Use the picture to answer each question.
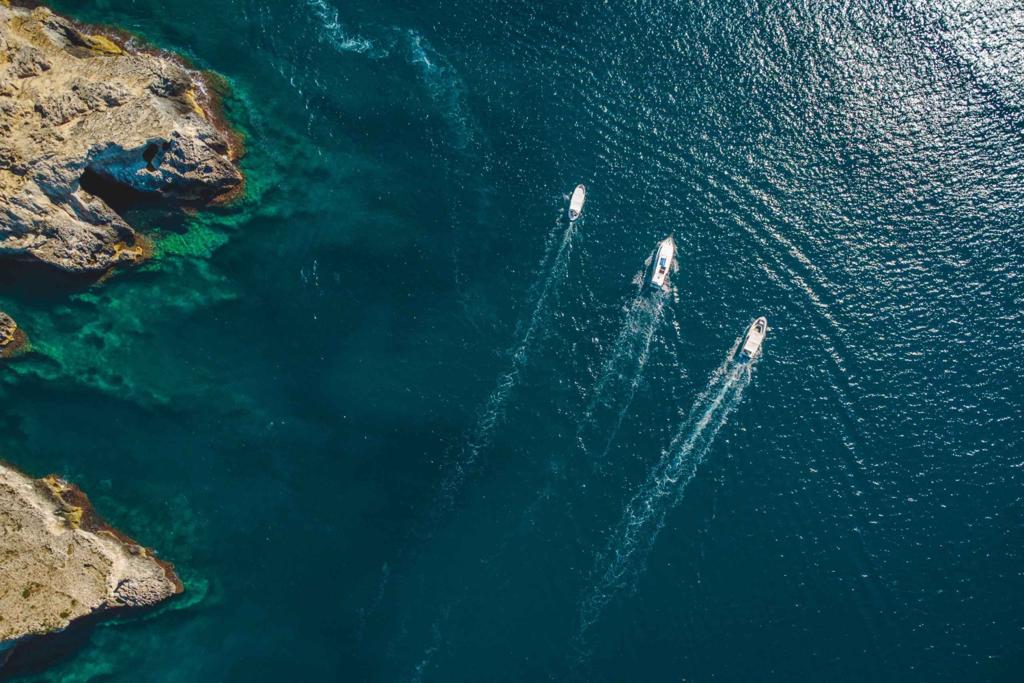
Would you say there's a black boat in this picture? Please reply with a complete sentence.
No, I can see no black boat in this picture.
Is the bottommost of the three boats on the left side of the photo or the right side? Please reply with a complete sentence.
The bottommost of the three boats sits on the right side.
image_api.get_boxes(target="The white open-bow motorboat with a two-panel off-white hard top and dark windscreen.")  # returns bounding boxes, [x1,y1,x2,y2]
[740,316,767,358]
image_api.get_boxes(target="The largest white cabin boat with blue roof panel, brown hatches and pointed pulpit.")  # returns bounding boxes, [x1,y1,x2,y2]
[649,232,674,288]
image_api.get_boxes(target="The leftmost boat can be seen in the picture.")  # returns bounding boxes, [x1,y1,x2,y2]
[568,183,586,221]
